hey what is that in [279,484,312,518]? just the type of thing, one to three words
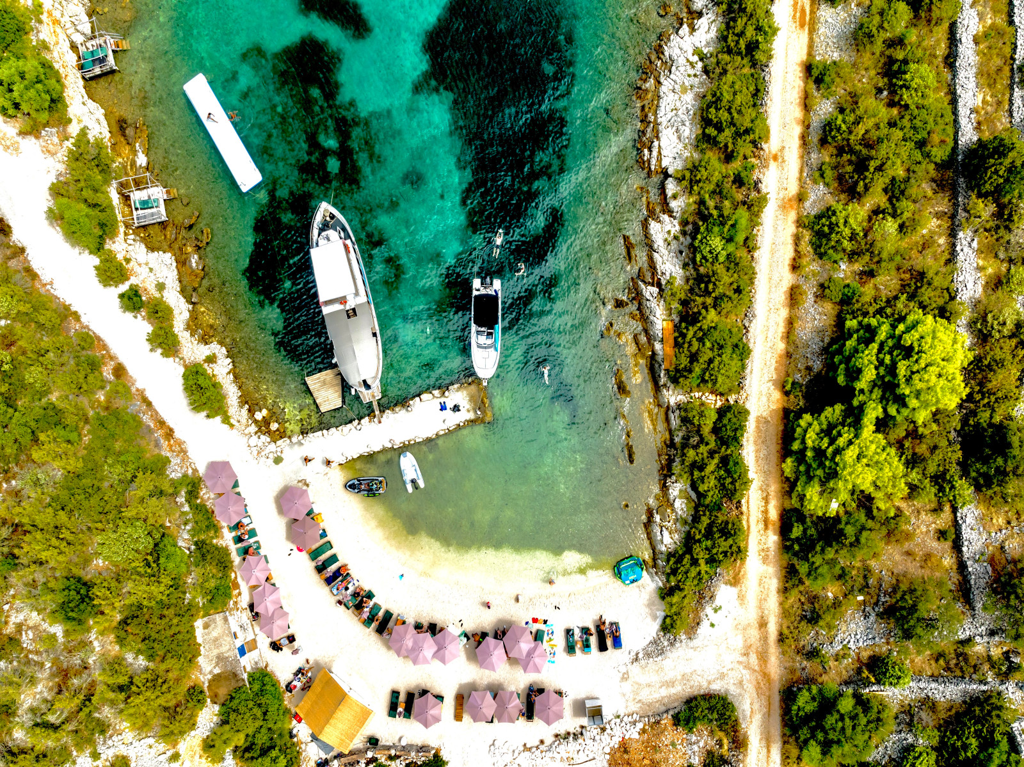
umbrella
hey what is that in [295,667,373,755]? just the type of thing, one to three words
shed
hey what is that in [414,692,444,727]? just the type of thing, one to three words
umbrella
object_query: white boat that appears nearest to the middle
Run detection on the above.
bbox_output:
[469,275,501,386]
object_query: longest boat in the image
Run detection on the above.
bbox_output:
[310,202,383,403]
